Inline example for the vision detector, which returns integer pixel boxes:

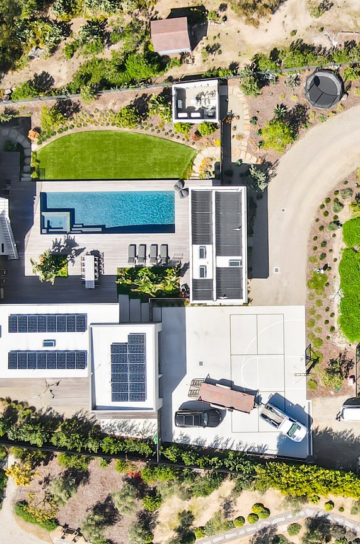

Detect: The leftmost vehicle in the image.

[176,409,222,429]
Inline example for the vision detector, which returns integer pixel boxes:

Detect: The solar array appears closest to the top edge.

[8,315,87,332]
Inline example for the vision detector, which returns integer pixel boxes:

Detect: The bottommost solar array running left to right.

[8,351,87,369]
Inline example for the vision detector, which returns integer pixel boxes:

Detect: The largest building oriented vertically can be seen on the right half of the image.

[189,187,249,305]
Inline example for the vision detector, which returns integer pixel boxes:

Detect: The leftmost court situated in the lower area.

[157,305,307,456]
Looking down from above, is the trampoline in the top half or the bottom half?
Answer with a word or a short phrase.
top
